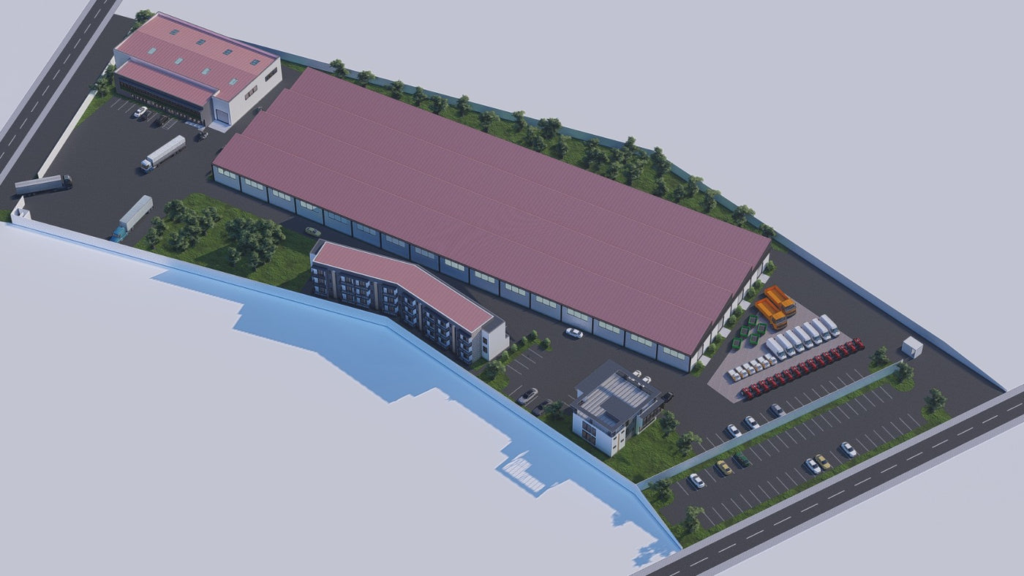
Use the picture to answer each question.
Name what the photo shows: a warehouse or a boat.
warehouse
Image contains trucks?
Yes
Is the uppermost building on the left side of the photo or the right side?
left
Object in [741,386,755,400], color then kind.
red work vehicle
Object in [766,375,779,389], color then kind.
red vehicle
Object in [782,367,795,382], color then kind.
red vehicle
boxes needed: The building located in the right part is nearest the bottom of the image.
[571,360,665,457]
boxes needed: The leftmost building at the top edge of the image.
[113,11,281,127]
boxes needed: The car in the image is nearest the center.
[564,328,584,340]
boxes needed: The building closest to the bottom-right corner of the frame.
[901,336,923,358]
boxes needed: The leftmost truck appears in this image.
[15,176,73,199]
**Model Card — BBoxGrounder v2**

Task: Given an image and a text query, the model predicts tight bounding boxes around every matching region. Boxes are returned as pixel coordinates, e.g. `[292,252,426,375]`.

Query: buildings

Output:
[211,66,772,372]
[571,360,665,457]
[901,336,923,358]
[309,238,509,366]
[15,206,38,220]
[113,11,281,127]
